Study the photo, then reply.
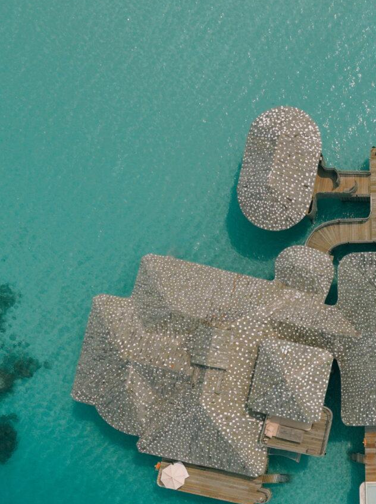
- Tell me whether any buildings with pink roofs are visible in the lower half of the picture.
No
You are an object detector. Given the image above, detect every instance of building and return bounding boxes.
[237,107,321,231]
[73,252,362,479]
